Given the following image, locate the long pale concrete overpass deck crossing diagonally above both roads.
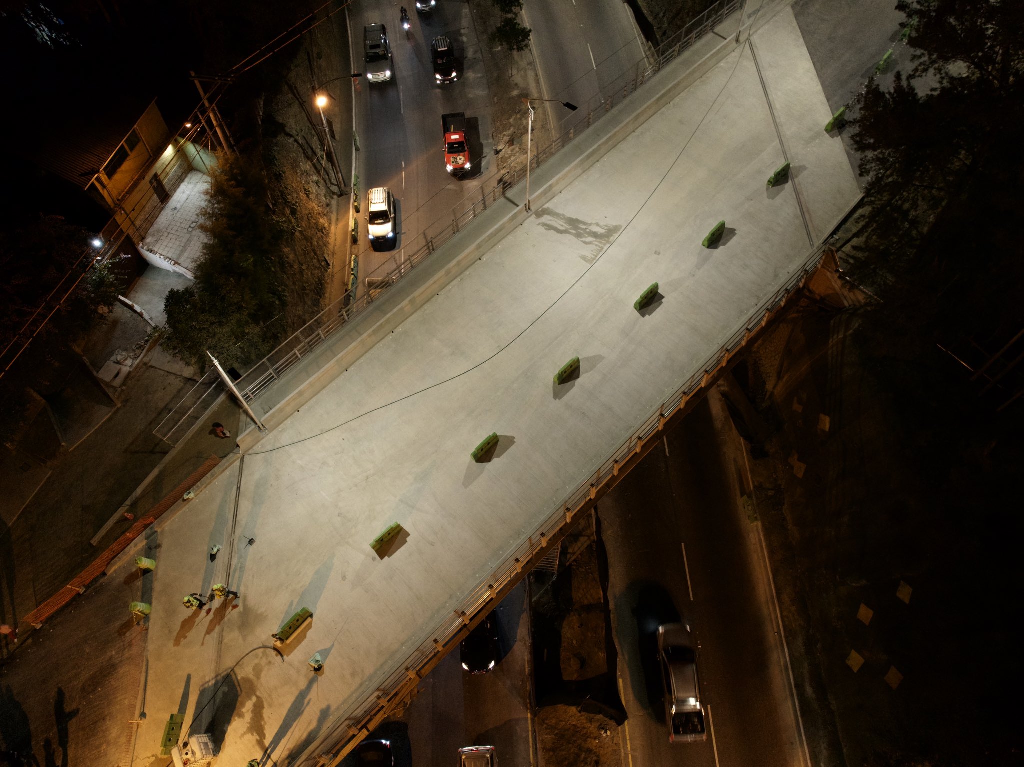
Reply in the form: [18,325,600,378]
[205,0,861,767]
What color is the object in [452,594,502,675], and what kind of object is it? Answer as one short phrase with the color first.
black car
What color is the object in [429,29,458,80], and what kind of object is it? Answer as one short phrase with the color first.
black car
